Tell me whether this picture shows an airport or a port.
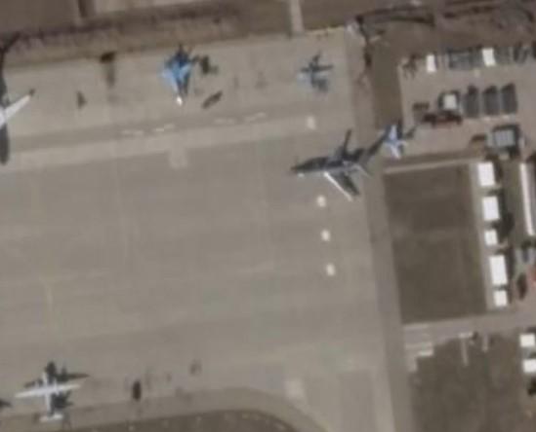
airport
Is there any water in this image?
No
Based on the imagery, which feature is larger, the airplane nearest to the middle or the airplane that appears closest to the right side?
the airplane nearest to the middle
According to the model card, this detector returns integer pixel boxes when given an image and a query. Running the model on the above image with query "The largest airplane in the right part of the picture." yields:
[292,131,370,202]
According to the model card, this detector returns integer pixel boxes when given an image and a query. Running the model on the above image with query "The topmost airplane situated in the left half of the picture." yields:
[160,53,191,106]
